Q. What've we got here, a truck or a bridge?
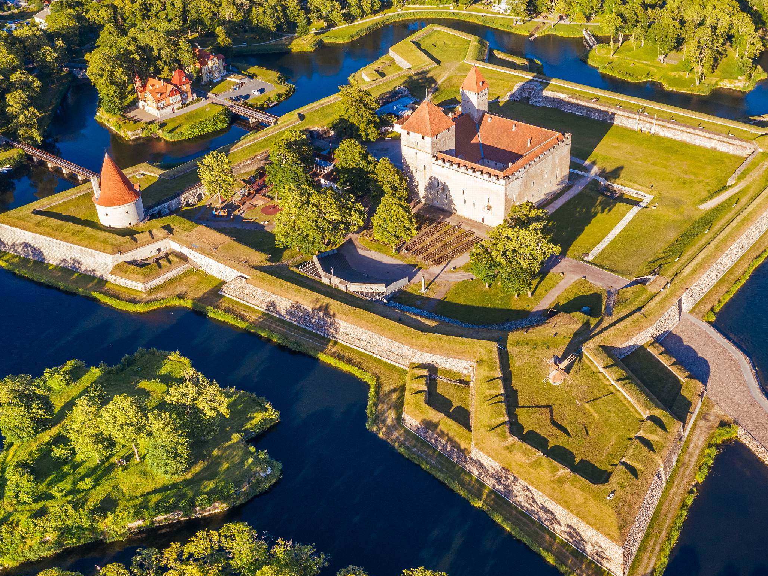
bridge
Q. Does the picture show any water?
Yes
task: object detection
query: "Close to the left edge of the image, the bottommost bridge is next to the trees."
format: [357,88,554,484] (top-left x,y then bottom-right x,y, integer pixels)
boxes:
[1,137,100,184]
